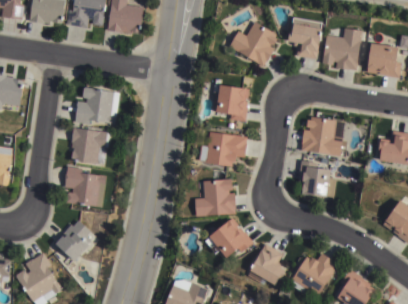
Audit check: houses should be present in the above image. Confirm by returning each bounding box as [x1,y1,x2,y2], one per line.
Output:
[70,129,112,164]
[17,254,68,304]
[0,252,11,287]
[303,160,338,198]
[385,201,408,244]
[296,256,336,296]
[289,18,324,58]
[211,220,256,258]
[218,84,251,122]
[30,0,66,26]
[202,132,248,166]
[168,280,208,304]
[234,23,279,72]
[75,88,120,124]
[196,180,237,216]
[0,74,24,110]
[250,244,294,286]
[0,0,24,18]
[337,272,375,304]
[66,166,106,208]
[369,44,403,78]
[0,147,14,186]
[380,132,408,165]
[68,0,106,26]
[302,118,347,158]
[324,28,368,70]
[108,0,144,33]
[56,222,96,266]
